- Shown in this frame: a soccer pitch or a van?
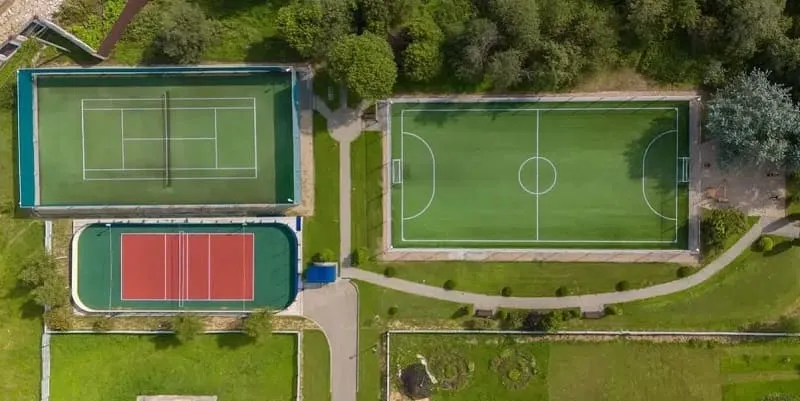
soccer pitch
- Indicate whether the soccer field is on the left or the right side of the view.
right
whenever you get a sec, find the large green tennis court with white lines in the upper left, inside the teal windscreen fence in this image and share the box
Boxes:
[34,72,295,208]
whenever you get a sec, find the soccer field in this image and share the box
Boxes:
[377,93,700,262]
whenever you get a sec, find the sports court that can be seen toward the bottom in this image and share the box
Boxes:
[73,217,303,318]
